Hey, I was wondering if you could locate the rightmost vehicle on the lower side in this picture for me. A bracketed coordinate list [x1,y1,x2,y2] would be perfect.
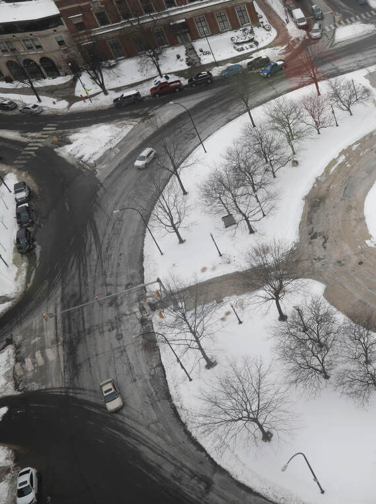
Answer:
[96,377,122,411]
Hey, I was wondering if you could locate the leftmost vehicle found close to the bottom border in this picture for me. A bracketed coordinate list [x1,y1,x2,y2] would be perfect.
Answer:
[10,464,36,504]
